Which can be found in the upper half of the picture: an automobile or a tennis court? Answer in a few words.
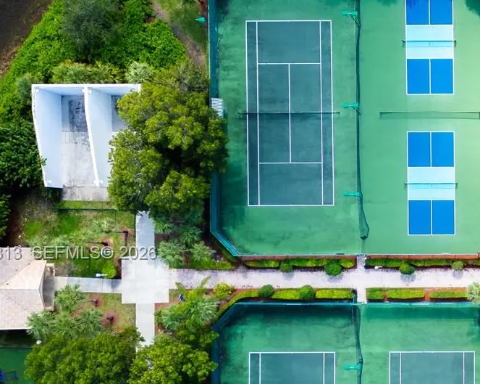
tennis court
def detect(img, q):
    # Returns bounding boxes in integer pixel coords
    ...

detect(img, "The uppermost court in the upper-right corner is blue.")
[405,0,454,94]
